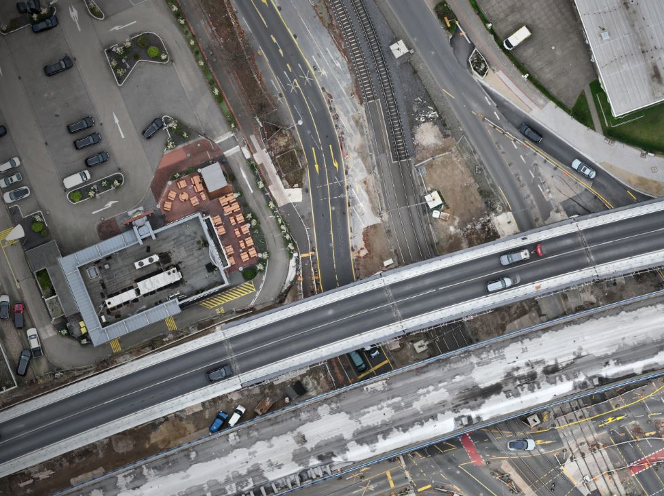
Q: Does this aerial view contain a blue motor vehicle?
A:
Yes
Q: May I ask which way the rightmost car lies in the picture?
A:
on a diagonal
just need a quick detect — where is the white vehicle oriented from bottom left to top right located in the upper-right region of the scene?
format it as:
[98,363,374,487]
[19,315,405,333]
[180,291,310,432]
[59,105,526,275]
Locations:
[502,25,531,49]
